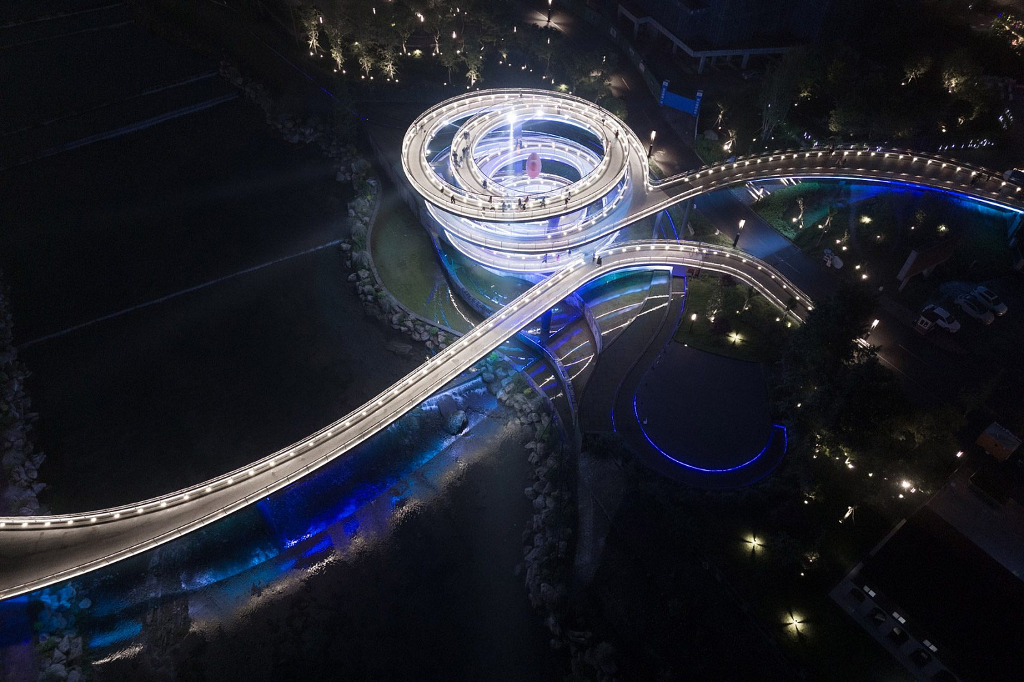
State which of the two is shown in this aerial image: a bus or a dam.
dam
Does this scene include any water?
Yes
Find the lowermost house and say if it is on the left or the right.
right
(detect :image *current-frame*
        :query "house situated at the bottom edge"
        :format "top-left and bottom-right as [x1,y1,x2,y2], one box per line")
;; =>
[827,490,1024,682]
